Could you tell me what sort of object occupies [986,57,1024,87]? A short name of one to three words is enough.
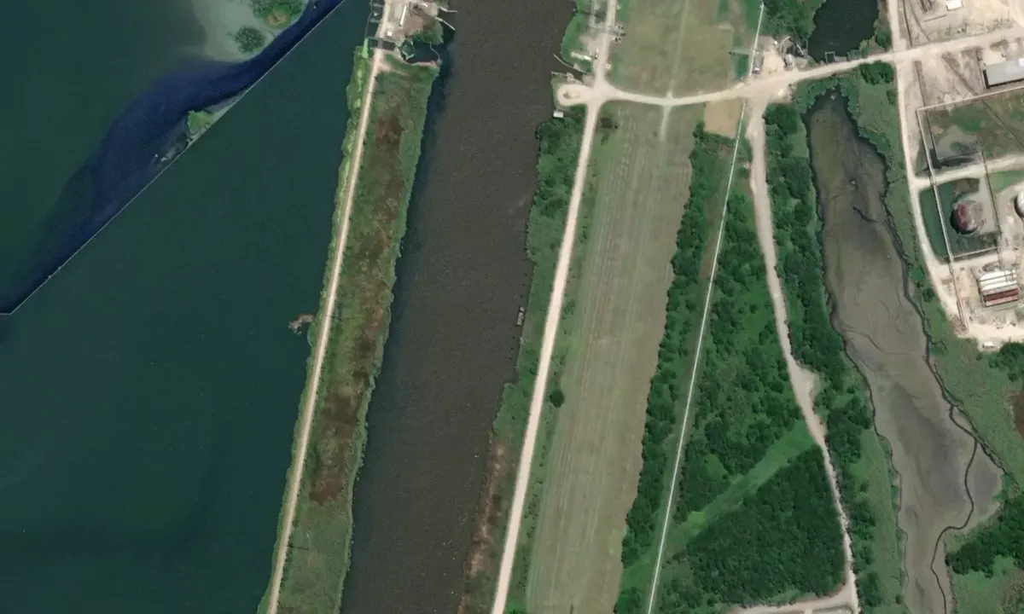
building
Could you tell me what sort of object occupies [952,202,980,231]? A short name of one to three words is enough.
storage tank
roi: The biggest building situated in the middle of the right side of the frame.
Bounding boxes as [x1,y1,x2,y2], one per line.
[980,269,1020,307]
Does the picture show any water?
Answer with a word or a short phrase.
Yes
